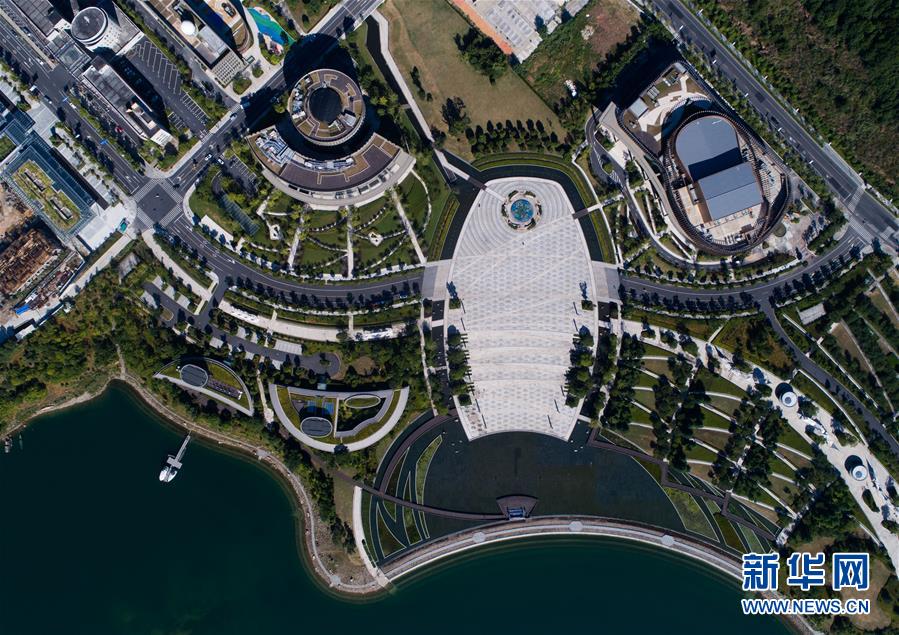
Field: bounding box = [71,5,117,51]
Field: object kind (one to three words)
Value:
building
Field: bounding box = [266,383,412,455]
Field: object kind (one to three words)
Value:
building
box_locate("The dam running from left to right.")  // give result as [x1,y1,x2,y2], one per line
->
[380,516,824,635]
